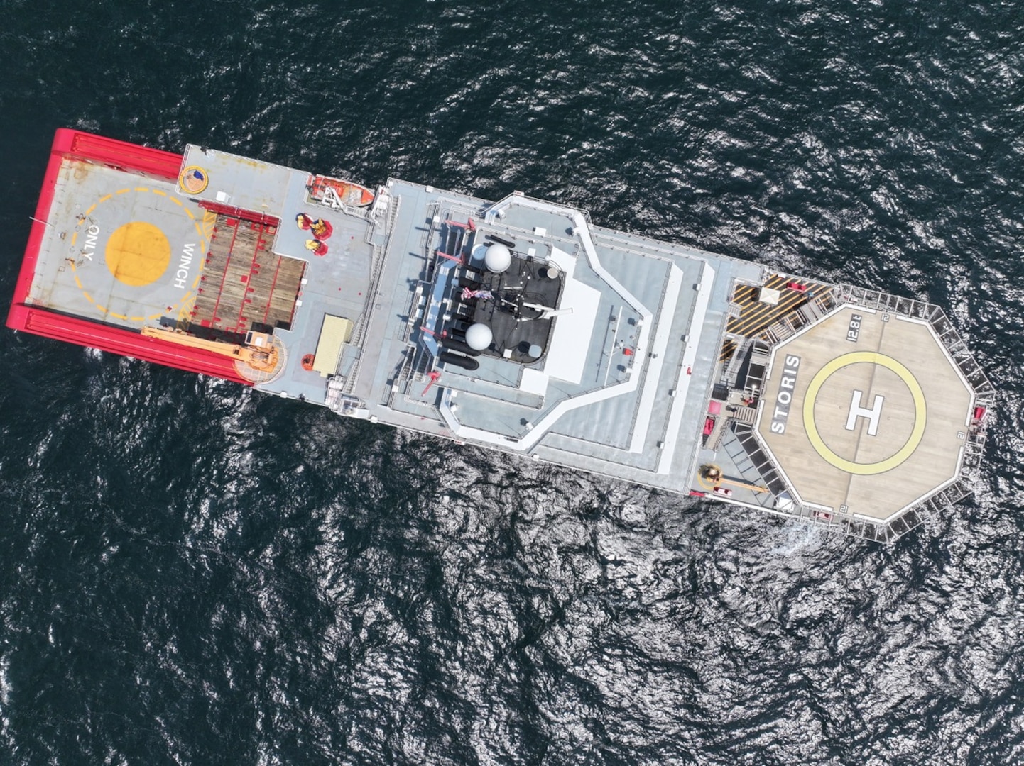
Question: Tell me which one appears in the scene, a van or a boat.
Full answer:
The image shows a boat.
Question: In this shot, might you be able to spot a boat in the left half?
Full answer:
Yes, there is a boat in the left half.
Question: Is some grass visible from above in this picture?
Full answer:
No, the scene doesn't show any grass.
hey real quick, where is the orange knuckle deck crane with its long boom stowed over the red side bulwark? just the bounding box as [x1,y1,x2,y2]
[140,322,287,385]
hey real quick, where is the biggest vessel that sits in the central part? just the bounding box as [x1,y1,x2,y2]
[8,128,995,543]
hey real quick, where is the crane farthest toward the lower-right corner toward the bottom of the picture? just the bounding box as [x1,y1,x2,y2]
[698,465,772,494]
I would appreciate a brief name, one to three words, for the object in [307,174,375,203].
boat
